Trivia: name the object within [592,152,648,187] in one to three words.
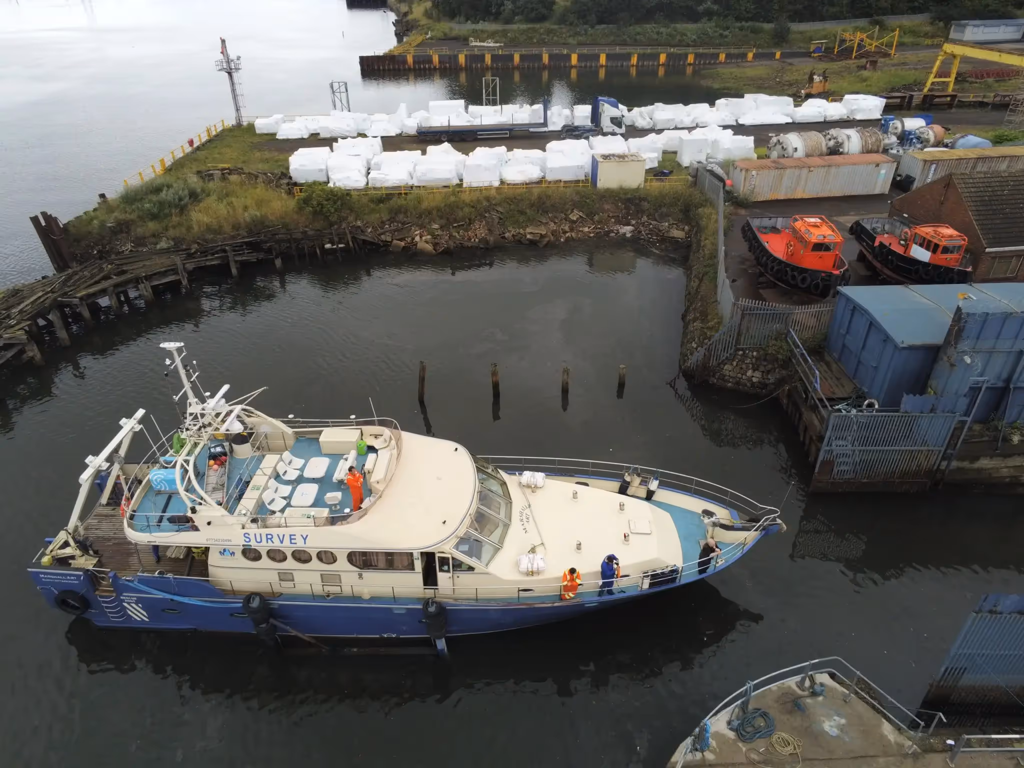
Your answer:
building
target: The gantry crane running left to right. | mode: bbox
[928,41,1024,89]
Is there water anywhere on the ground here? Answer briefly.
Yes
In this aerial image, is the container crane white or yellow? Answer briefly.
yellow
